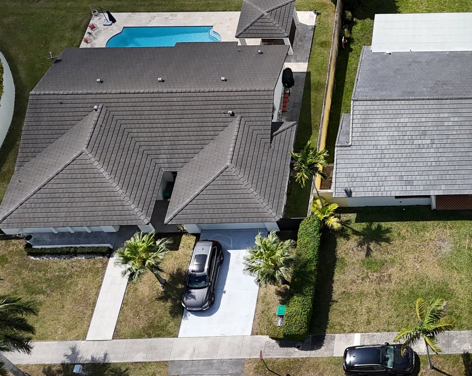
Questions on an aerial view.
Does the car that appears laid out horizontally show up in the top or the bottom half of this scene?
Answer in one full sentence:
The car that appears laid out horizontally is in the bottom half of the image.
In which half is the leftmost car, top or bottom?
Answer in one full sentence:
It is in the bottom half that the leftmost car appears.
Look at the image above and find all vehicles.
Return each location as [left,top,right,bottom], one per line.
[180,239,225,311]
[341,342,417,376]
